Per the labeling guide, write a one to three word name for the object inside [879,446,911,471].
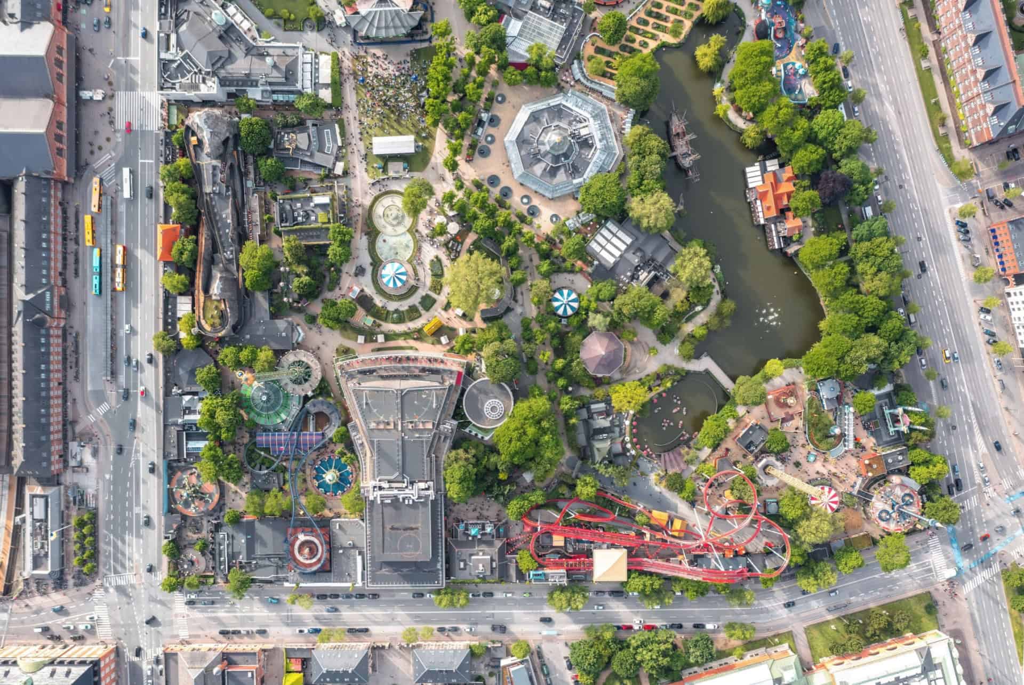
house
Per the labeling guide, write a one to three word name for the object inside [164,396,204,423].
building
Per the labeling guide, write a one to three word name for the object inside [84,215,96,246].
vehicle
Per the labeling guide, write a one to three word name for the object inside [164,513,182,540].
shed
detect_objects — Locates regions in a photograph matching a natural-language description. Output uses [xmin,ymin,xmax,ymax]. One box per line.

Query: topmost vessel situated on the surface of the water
[670,95,701,170]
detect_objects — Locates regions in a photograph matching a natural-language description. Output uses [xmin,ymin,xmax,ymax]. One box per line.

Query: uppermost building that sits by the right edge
[936,0,1024,149]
